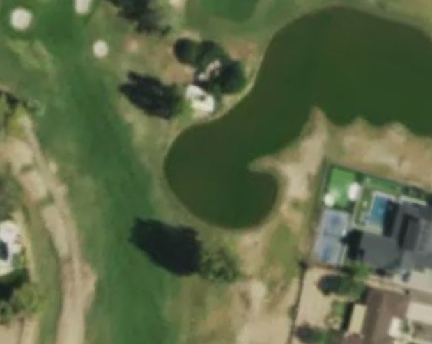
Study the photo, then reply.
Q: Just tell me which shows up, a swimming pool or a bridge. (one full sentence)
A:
The image shows a swimming pool.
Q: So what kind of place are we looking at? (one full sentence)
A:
This image shows a golf course.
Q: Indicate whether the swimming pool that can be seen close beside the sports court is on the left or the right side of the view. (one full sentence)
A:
The swimming pool that can be seen close beside the sports court appears in the right half of the scene.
